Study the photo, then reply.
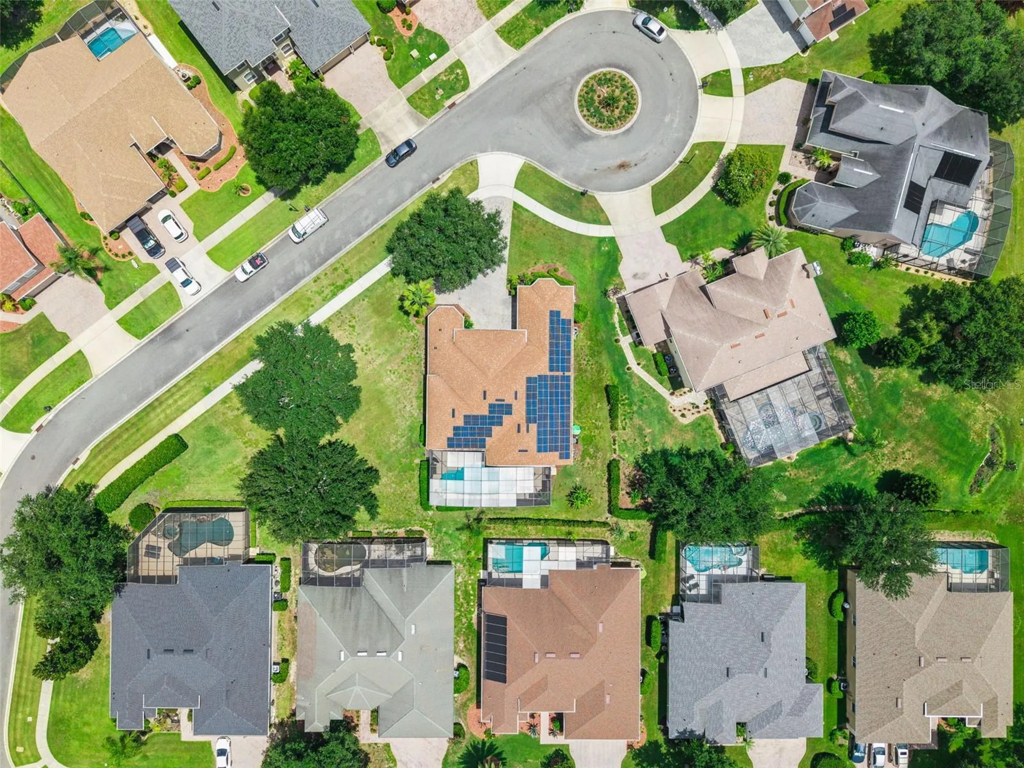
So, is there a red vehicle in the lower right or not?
No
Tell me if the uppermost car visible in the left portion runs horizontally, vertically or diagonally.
diagonally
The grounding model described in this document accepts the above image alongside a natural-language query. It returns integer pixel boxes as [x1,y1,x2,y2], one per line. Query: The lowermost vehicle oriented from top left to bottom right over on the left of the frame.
[164,256,202,297]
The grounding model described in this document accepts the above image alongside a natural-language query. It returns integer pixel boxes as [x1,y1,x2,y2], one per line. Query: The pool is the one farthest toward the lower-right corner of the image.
[933,549,990,575]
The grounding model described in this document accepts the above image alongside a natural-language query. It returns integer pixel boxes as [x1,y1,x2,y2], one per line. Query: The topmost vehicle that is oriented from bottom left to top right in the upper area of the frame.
[384,137,420,169]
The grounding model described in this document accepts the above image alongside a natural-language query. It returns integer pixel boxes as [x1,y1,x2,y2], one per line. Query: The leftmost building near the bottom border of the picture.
[110,563,275,736]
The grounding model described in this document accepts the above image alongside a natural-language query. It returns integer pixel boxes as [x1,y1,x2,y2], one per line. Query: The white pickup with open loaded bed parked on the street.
[233,251,272,284]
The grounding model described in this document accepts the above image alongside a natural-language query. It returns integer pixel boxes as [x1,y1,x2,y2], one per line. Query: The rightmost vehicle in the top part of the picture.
[631,12,668,45]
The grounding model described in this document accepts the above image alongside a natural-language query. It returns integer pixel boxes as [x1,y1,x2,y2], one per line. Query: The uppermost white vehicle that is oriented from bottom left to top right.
[288,206,330,243]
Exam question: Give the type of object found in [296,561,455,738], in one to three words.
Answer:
building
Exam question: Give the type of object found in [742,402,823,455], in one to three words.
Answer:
swimming pool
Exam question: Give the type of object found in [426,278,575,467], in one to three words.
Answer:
house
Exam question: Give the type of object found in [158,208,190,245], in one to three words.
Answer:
car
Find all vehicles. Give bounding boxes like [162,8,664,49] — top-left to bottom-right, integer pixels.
[164,256,202,297]
[631,12,668,45]
[158,208,190,245]
[127,215,166,259]
[214,736,233,768]
[848,730,868,763]
[233,251,272,284]
[869,744,889,768]
[384,137,420,169]
[288,206,330,243]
